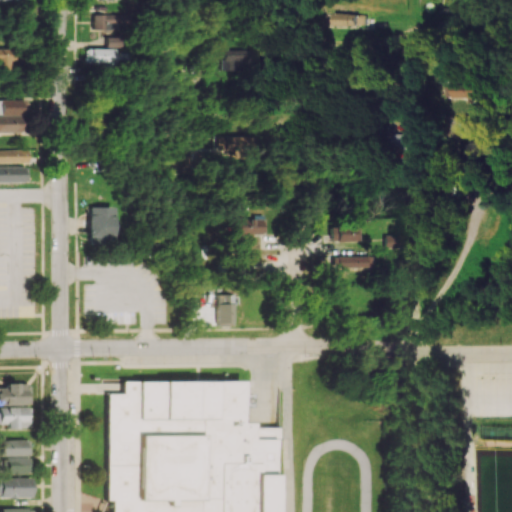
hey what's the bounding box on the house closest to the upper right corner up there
[445,90,472,103]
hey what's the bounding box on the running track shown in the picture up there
[302,438,372,512]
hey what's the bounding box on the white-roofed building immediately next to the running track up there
[108,381,286,512]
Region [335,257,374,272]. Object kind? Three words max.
house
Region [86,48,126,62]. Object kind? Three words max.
house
